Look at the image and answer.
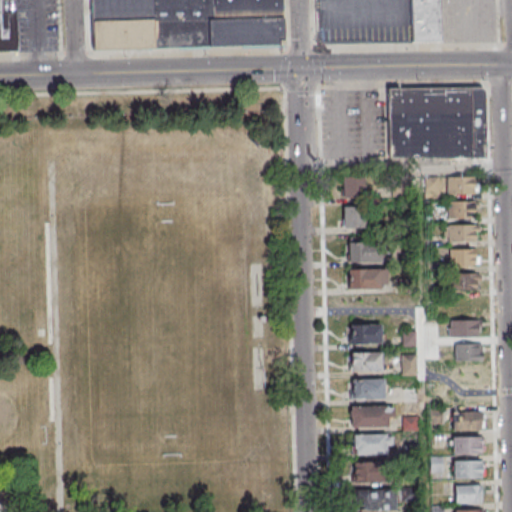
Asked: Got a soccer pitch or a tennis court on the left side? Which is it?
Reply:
soccer pitch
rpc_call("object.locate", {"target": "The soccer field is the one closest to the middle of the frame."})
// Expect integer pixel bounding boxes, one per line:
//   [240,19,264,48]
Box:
[84,195,255,464]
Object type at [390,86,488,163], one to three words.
building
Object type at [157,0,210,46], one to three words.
building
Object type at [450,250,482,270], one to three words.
house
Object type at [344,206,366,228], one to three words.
house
